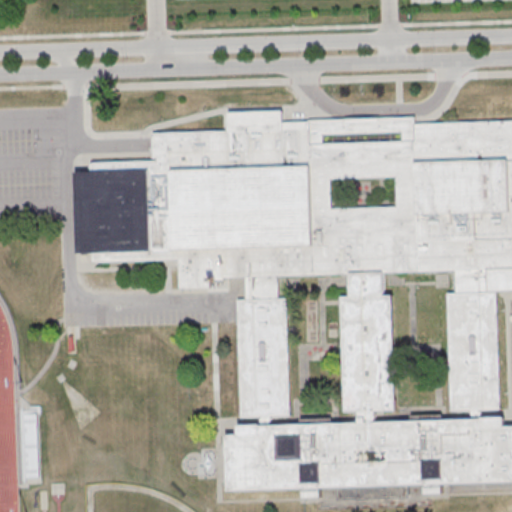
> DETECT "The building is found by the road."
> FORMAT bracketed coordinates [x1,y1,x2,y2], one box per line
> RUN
[74,110,512,498]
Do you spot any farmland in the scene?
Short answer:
No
